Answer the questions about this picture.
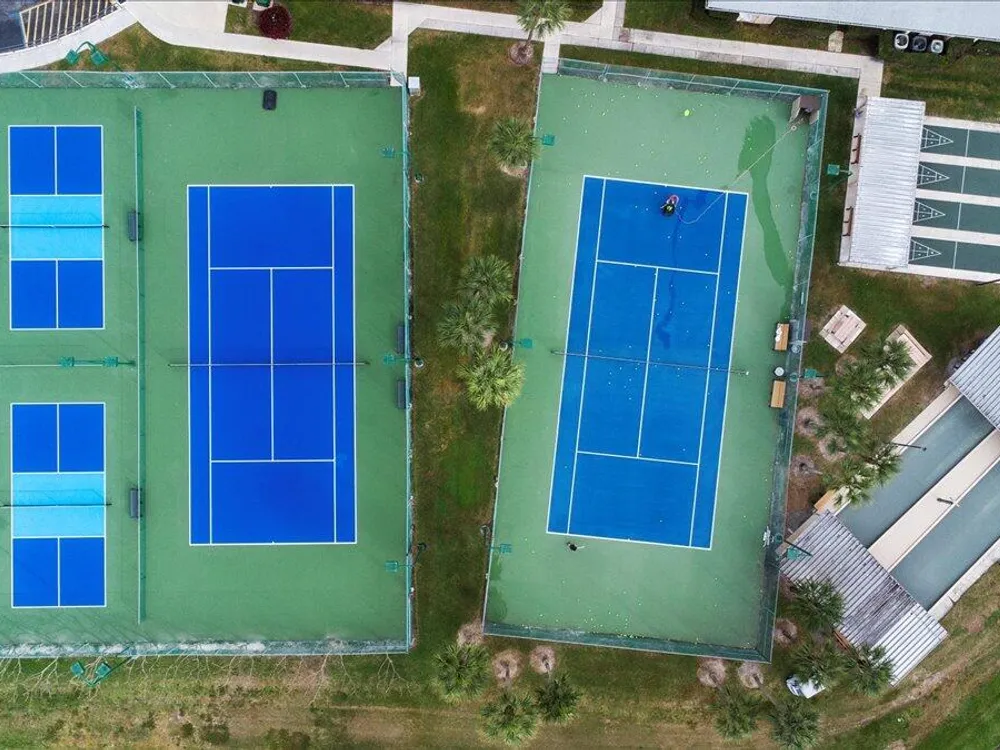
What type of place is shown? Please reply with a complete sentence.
This looks like a sports ground.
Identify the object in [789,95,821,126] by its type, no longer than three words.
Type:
shed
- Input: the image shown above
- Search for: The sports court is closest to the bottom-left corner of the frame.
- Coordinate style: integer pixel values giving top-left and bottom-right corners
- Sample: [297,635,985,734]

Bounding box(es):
[0,364,146,644]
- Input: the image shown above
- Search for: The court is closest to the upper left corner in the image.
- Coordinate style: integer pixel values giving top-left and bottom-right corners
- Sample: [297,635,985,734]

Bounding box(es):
[0,87,144,365]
